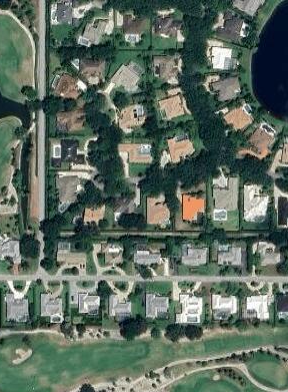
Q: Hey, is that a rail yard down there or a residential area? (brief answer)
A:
residential area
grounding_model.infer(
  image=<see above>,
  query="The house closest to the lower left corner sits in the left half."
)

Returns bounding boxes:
[6,294,27,323]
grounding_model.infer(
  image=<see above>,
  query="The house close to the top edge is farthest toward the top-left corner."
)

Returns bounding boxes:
[56,0,72,22]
